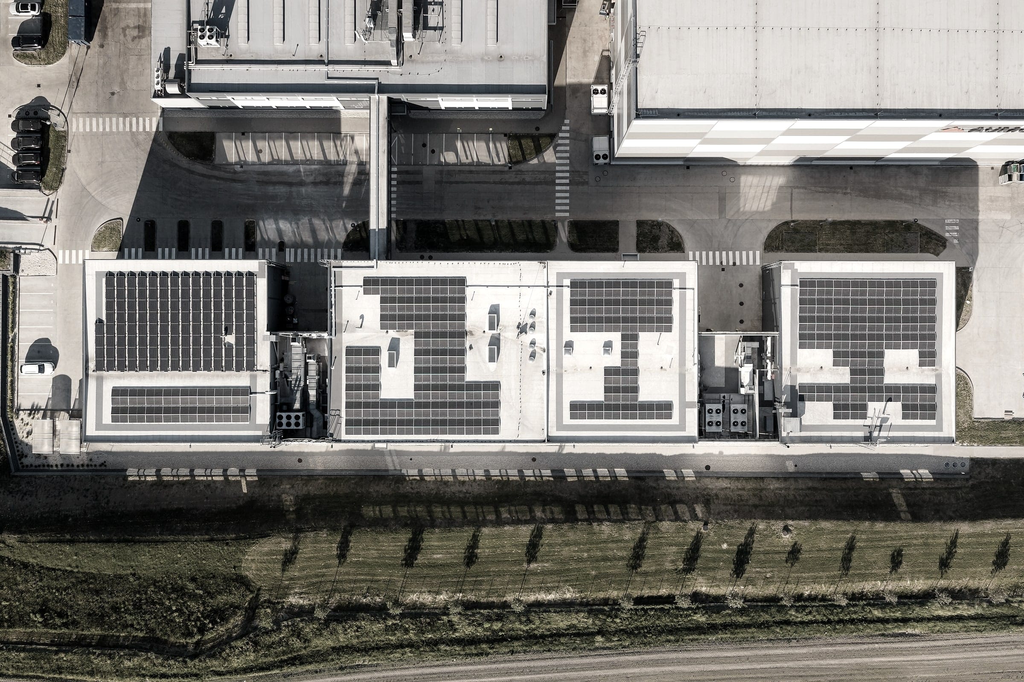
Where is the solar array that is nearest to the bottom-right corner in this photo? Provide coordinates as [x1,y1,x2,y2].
[798,281,936,420]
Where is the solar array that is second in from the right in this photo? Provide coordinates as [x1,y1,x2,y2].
[570,281,672,420]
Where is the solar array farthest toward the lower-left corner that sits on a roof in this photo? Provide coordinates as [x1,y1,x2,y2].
[112,389,250,423]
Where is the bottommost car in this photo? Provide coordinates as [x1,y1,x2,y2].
[21,361,55,376]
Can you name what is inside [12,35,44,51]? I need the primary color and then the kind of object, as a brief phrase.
black car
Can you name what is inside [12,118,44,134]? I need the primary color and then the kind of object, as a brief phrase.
black car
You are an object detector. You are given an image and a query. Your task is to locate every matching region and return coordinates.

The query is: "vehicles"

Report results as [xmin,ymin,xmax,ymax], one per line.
[12,152,43,167]
[12,135,44,151]
[12,118,44,134]
[12,35,44,51]
[21,361,55,376]
[10,0,42,17]
[12,169,44,185]
[598,0,608,20]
